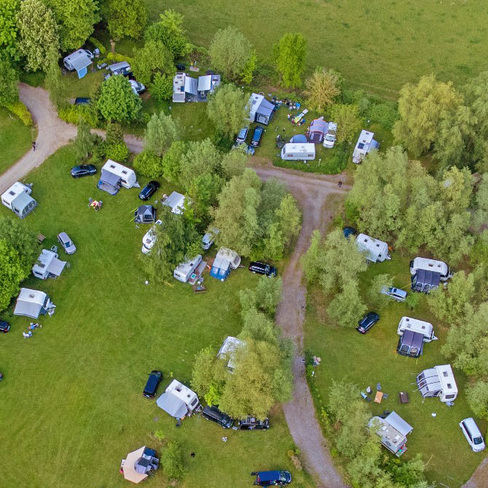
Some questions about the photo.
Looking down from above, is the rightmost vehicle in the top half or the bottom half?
bottom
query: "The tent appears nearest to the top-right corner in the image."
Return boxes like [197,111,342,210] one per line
[304,114,327,139]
